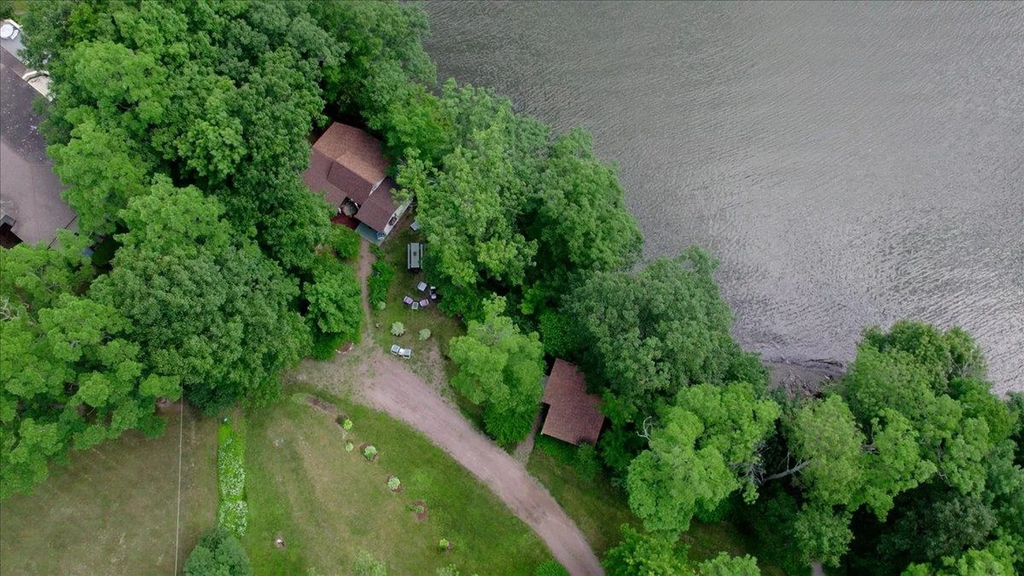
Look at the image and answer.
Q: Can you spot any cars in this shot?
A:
No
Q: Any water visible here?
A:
Yes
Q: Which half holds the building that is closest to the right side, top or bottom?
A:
bottom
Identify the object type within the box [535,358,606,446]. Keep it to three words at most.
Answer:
building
